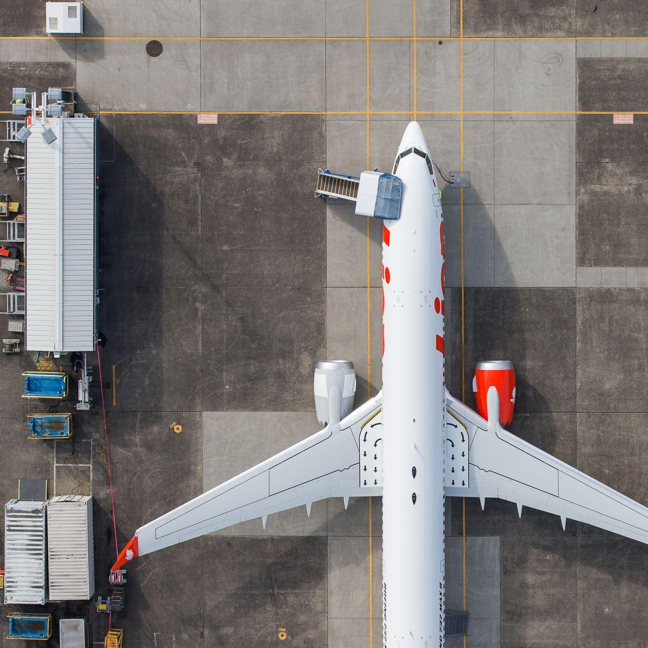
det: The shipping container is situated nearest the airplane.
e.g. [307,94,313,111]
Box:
[47,496,94,600]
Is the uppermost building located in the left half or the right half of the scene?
left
